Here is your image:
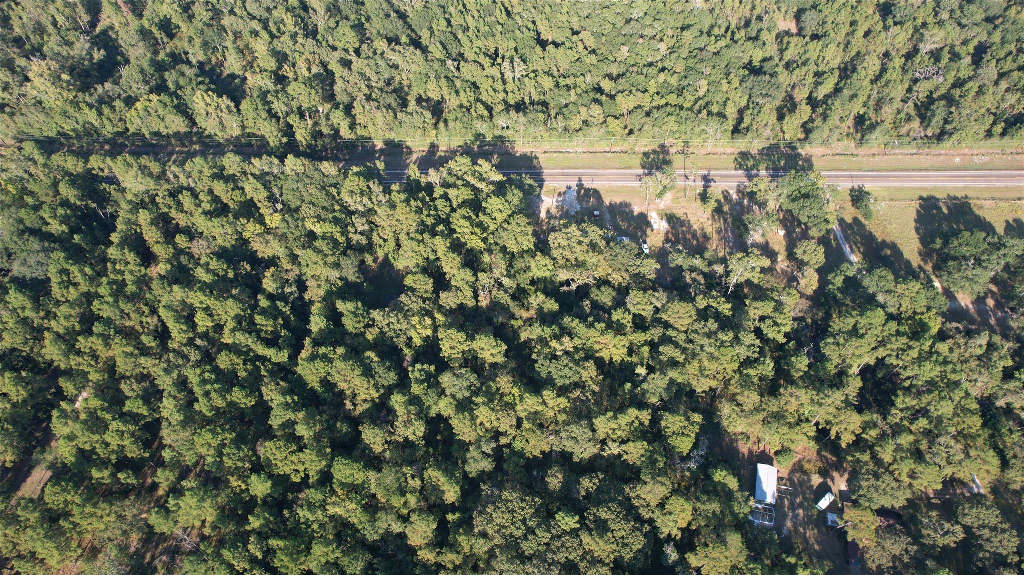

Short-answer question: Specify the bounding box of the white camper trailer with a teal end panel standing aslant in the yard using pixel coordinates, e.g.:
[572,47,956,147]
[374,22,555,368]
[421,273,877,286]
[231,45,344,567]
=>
[815,492,834,511]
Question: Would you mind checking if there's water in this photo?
No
